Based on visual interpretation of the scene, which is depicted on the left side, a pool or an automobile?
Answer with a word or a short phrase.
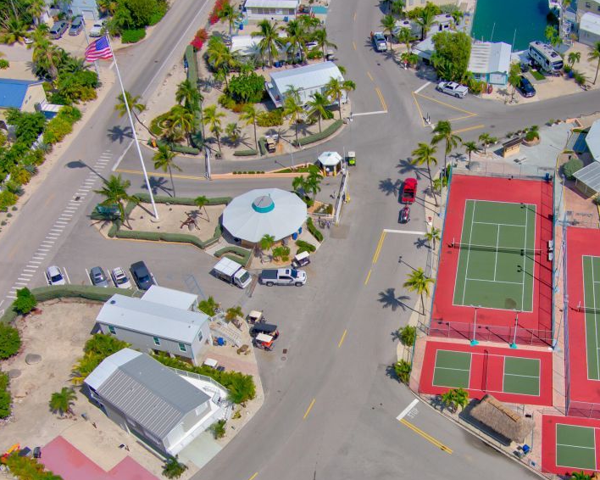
automobile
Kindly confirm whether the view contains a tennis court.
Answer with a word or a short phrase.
Yes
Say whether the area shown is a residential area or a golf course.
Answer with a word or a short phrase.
residential area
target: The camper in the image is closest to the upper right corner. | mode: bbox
[526,42,568,81]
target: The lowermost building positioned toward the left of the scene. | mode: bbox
[84,346,245,464]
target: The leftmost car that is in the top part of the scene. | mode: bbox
[19,34,38,48]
